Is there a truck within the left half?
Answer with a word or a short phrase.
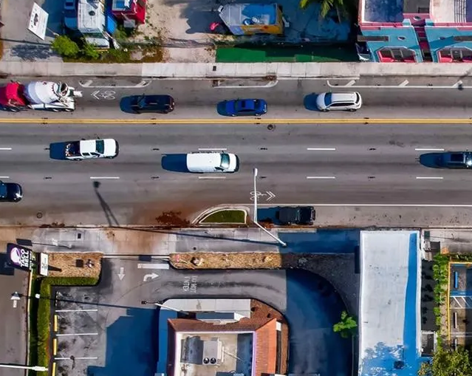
Yes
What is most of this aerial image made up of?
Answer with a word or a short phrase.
paved ground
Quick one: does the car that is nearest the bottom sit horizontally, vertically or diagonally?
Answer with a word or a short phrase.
horizontally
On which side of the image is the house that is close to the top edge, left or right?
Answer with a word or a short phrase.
right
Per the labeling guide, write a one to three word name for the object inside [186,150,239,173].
vehicle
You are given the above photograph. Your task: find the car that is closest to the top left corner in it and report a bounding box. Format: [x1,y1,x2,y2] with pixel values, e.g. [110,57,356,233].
[60,0,78,30]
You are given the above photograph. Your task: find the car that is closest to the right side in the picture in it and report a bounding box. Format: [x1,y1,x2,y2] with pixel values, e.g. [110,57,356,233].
[442,149,472,171]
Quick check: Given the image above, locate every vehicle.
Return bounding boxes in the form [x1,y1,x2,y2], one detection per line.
[66,136,120,159]
[0,80,84,113]
[316,90,362,113]
[351,23,370,59]
[132,91,177,114]
[77,0,114,57]
[226,96,269,118]
[60,0,78,30]
[442,149,472,171]
[276,204,316,225]
[0,180,25,202]
[186,150,239,173]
